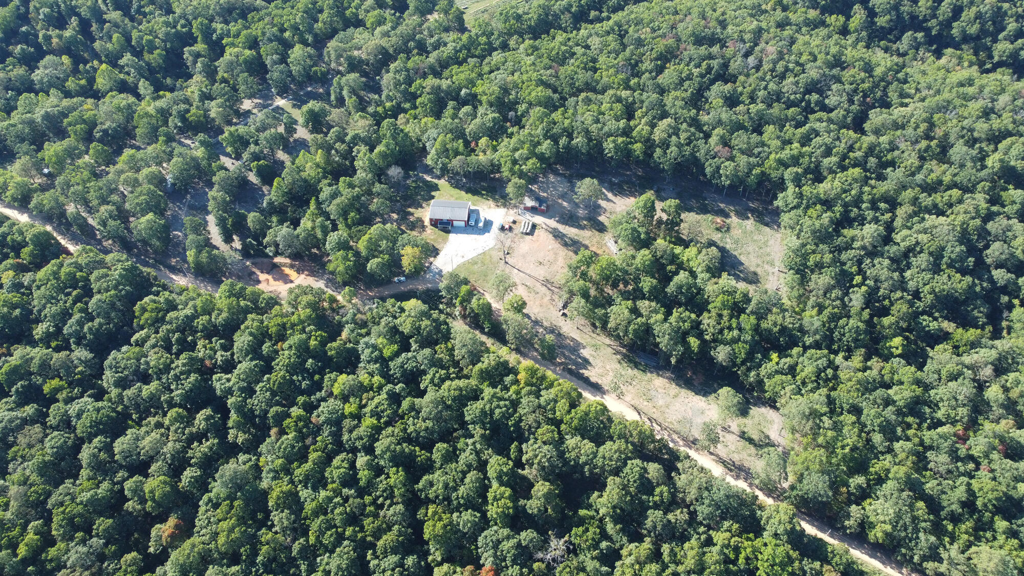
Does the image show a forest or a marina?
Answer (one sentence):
The area seen from above is a forest.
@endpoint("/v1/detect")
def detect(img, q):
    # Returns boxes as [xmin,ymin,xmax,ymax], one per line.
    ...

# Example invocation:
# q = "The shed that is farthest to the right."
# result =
[523,195,549,213]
